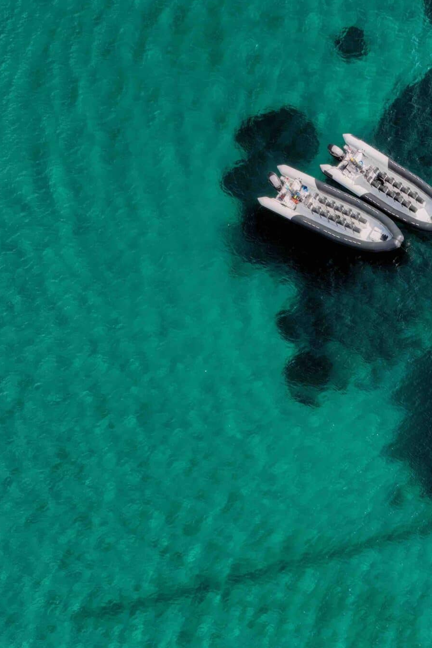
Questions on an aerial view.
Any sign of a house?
No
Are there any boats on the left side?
No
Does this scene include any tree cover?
No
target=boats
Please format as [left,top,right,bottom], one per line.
[321,135,432,231]
[258,165,403,255]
